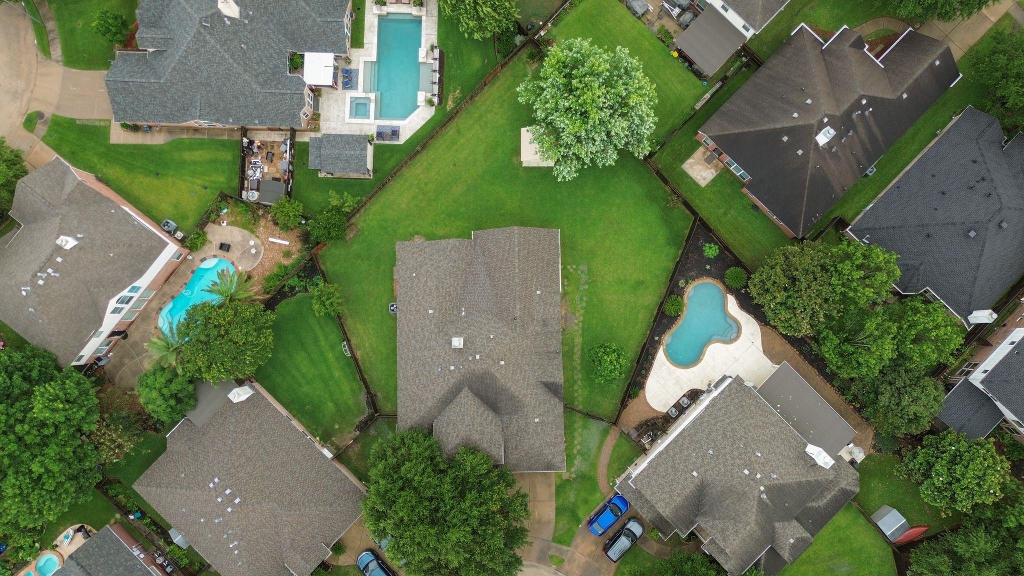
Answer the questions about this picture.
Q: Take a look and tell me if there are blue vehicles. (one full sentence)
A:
Yes, I can see a blue vehicle in this picture.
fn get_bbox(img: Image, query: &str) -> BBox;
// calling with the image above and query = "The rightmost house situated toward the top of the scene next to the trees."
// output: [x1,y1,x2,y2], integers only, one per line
[835,104,1024,331]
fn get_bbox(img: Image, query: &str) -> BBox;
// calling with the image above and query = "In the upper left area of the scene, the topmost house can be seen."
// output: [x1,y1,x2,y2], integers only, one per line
[105,0,355,132]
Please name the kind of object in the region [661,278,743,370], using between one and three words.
swimming pool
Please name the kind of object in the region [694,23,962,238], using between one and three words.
house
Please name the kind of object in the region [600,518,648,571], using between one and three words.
car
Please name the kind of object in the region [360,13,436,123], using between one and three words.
swimming pool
